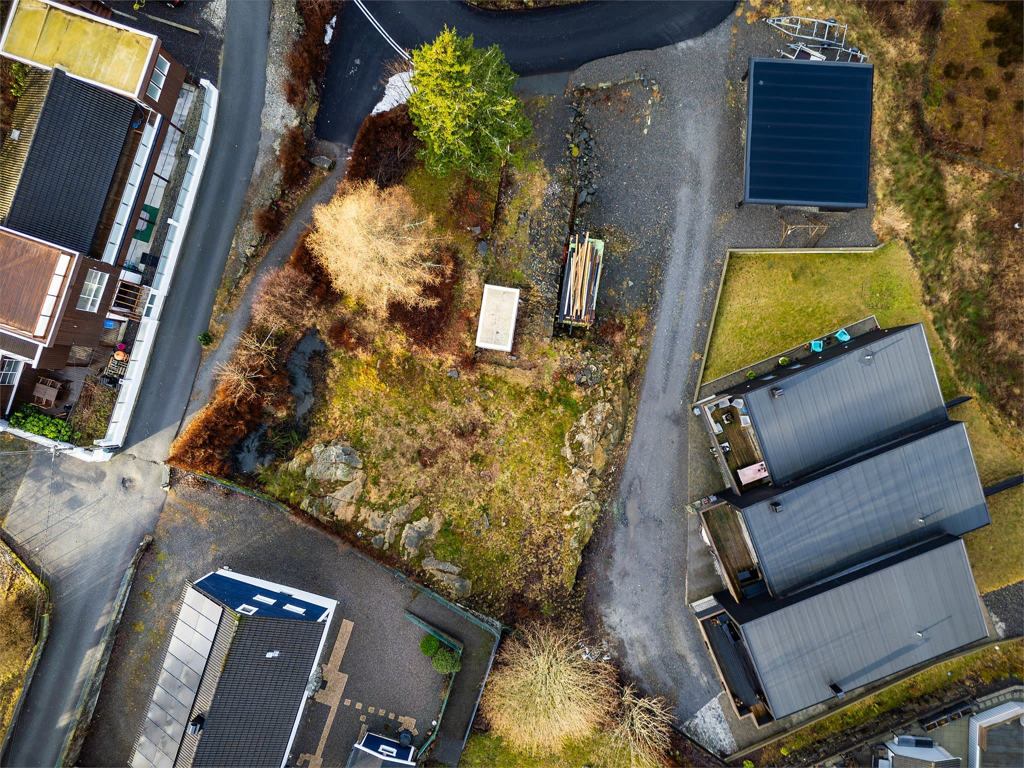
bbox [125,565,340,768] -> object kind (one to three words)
house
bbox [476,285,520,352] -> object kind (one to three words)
shed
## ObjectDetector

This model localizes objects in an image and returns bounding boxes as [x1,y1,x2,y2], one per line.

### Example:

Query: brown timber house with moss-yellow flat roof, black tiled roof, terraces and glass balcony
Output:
[0,0,194,415]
